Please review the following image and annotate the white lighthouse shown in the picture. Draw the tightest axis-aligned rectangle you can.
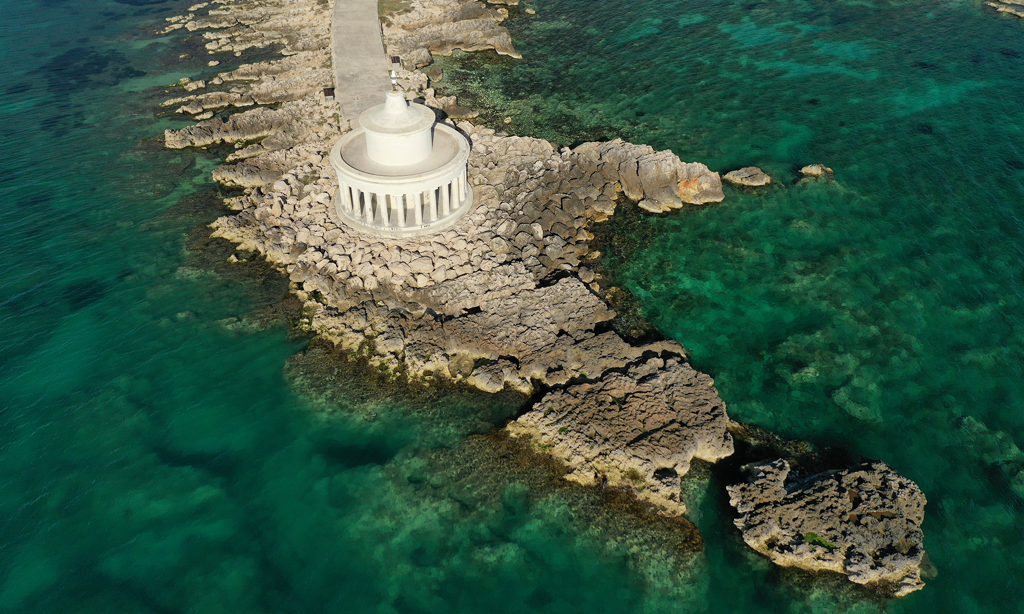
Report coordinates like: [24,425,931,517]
[330,71,473,238]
